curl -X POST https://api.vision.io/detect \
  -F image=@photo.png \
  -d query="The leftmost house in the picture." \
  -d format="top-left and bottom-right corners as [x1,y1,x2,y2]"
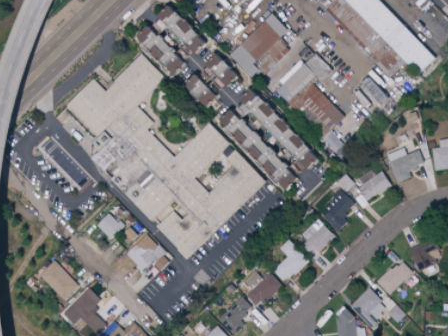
[42,261,80,300]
